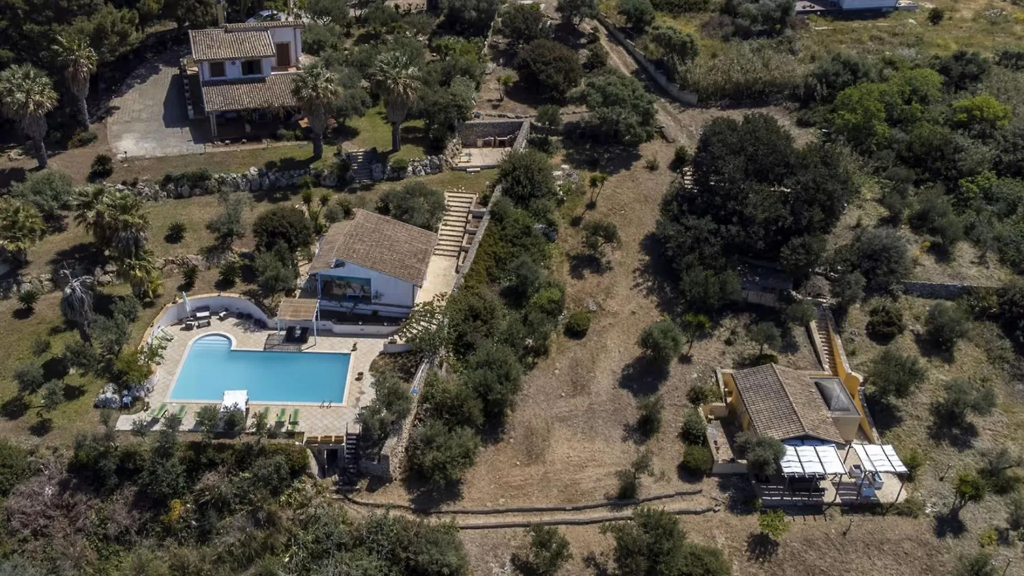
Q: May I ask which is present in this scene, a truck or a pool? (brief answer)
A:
pool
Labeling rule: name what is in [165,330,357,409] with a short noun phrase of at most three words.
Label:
swimming pool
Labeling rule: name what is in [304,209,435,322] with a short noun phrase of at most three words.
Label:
building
